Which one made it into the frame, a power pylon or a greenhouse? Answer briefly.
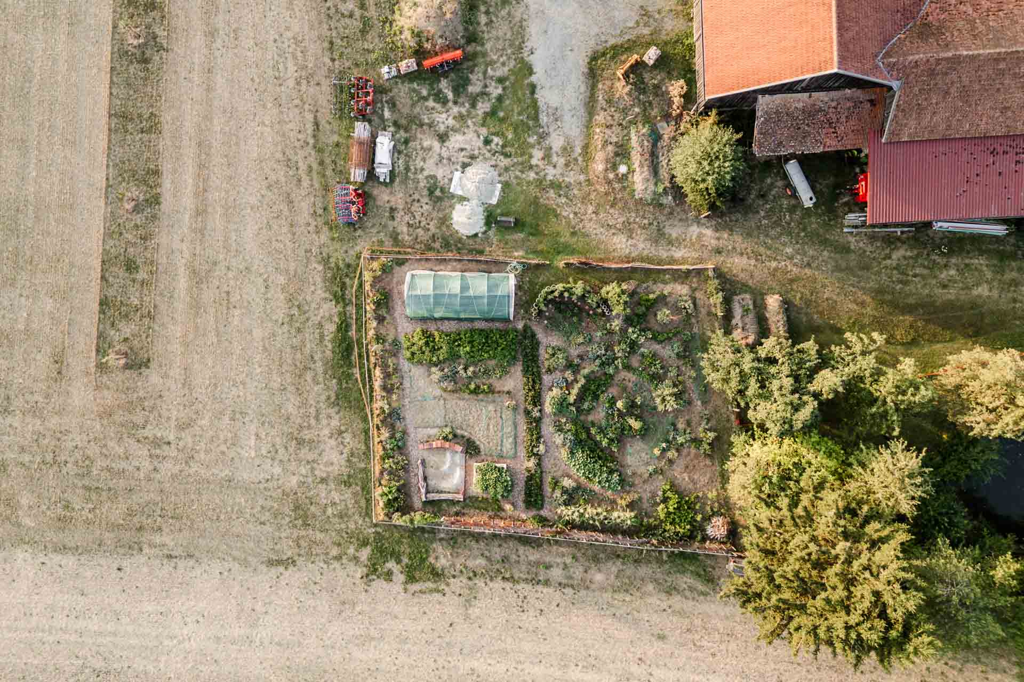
greenhouse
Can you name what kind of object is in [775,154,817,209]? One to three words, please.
trailer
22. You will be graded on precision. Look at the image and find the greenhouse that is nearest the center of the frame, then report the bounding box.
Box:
[399,268,516,321]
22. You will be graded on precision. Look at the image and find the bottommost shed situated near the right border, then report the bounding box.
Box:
[851,123,1024,226]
